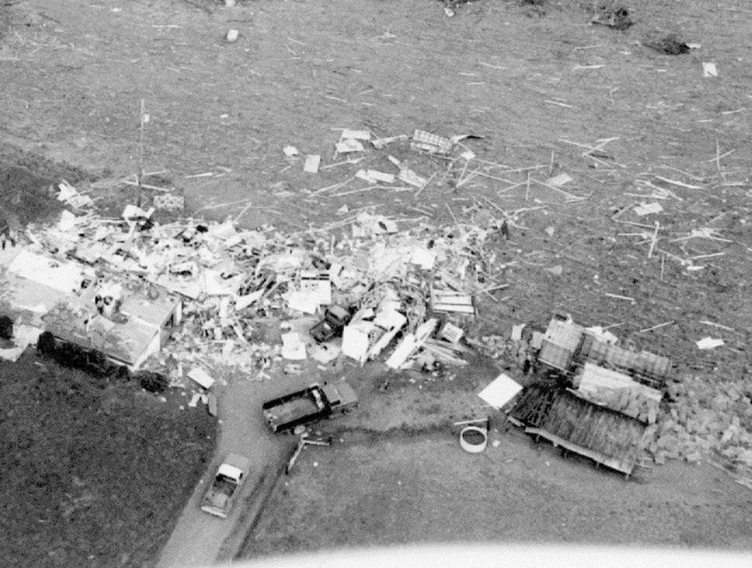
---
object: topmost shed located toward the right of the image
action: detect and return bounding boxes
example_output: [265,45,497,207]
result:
[537,311,586,369]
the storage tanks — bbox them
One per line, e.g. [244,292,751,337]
[459,426,489,455]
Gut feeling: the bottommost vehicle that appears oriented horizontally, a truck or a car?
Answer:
truck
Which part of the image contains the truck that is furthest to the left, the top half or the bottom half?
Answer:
bottom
